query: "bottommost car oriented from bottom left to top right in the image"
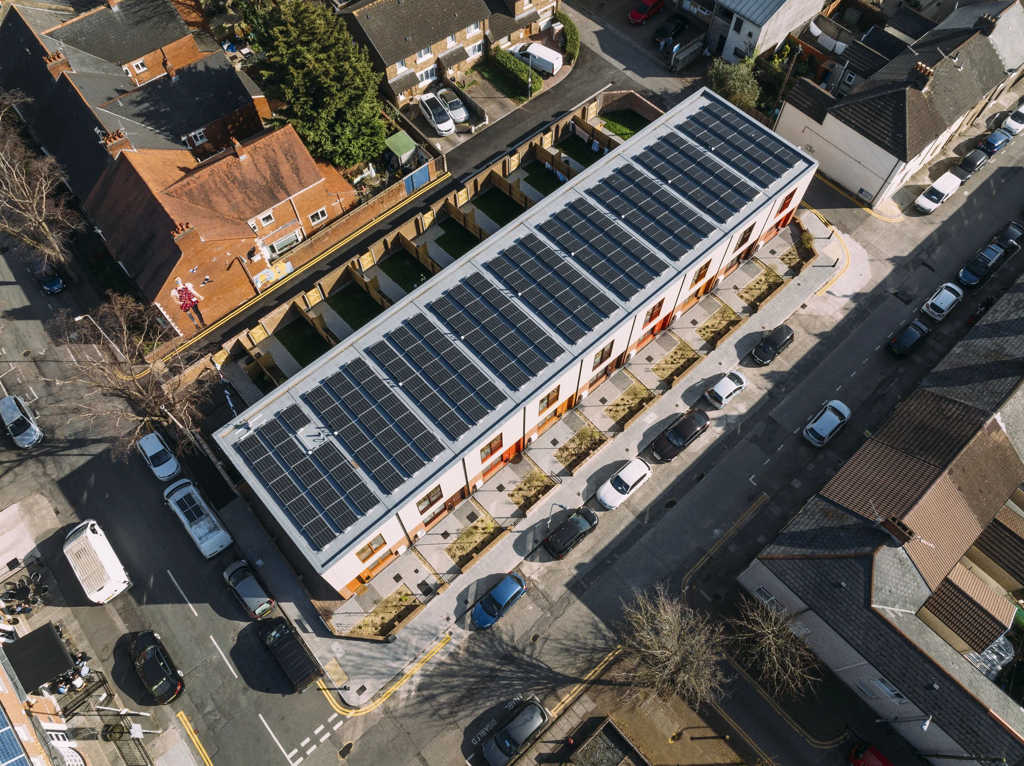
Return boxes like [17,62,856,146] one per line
[473,688,553,766]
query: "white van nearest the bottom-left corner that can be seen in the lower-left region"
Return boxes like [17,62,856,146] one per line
[60,517,137,611]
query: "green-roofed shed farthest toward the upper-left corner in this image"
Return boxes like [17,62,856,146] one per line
[384,129,419,174]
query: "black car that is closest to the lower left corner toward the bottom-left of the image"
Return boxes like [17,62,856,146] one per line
[127,623,189,711]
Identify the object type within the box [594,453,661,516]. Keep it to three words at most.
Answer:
car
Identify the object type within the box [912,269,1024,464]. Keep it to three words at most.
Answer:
house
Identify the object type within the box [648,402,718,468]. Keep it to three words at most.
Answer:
car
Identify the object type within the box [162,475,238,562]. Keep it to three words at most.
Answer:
van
